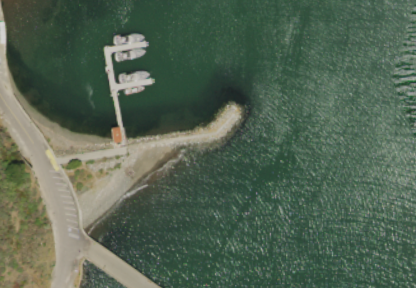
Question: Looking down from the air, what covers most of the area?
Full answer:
The largest share of the image is taken up by water.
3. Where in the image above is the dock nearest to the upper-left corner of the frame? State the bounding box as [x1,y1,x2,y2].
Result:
[104,42,155,146]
